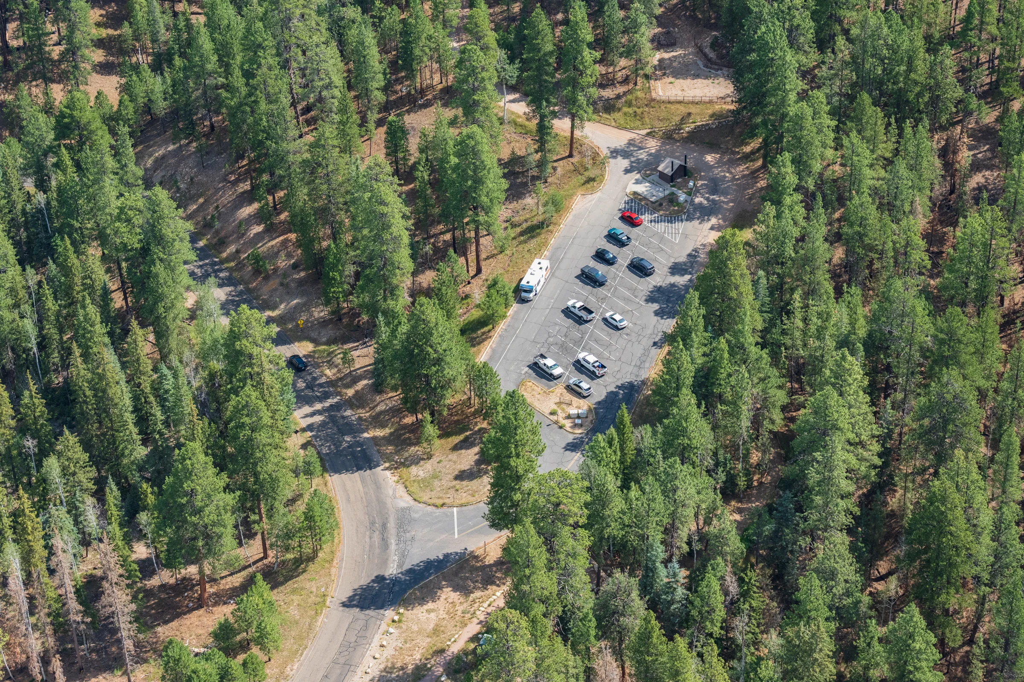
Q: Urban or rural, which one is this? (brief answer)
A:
rural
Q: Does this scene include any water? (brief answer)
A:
No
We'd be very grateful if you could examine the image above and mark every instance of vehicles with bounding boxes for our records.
[564,299,596,321]
[603,311,628,329]
[574,353,608,376]
[594,246,619,264]
[534,354,565,379]
[566,378,594,397]
[580,264,609,286]
[521,260,548,298]
[620,210,644,225]
[629,257,654,274]
[605,226,632,244]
